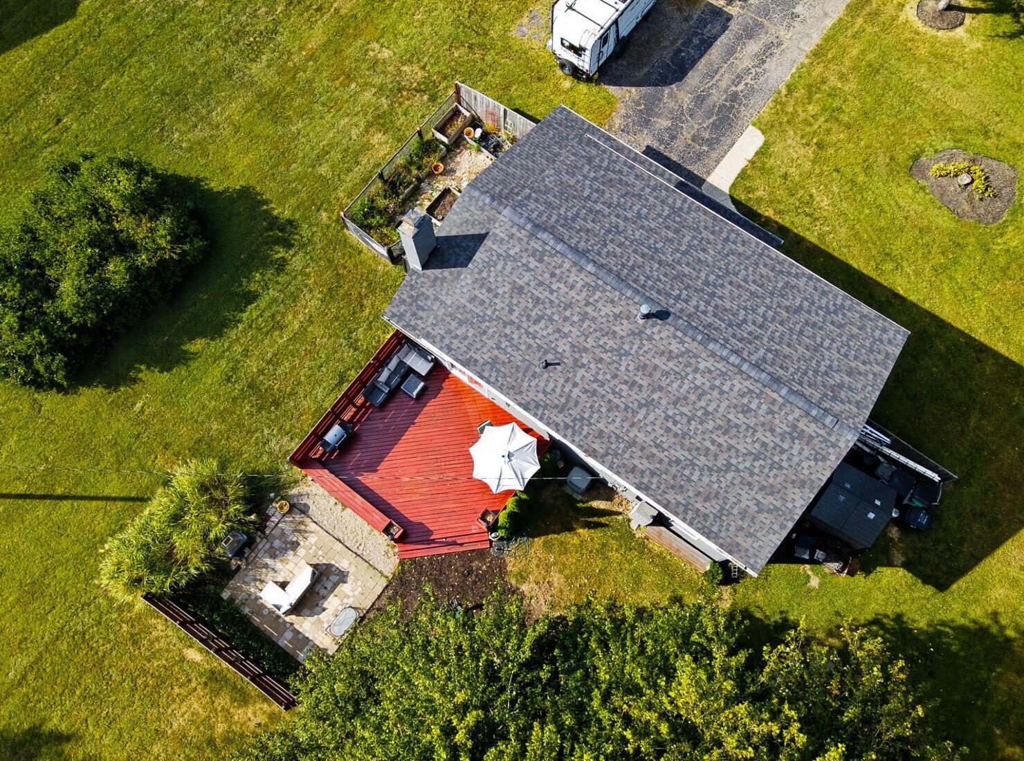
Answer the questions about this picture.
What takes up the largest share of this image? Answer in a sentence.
The scene is dominated by grass.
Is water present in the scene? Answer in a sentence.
No, the picture contains no water.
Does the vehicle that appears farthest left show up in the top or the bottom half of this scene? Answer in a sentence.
The vehicle that appears farthest left sits in the top half of the picture.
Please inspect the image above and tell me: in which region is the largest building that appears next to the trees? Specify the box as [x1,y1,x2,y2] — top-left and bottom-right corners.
[384,104,908,577]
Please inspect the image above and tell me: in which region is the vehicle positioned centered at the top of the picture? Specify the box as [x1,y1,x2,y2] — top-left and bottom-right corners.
[548,0,649,79]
